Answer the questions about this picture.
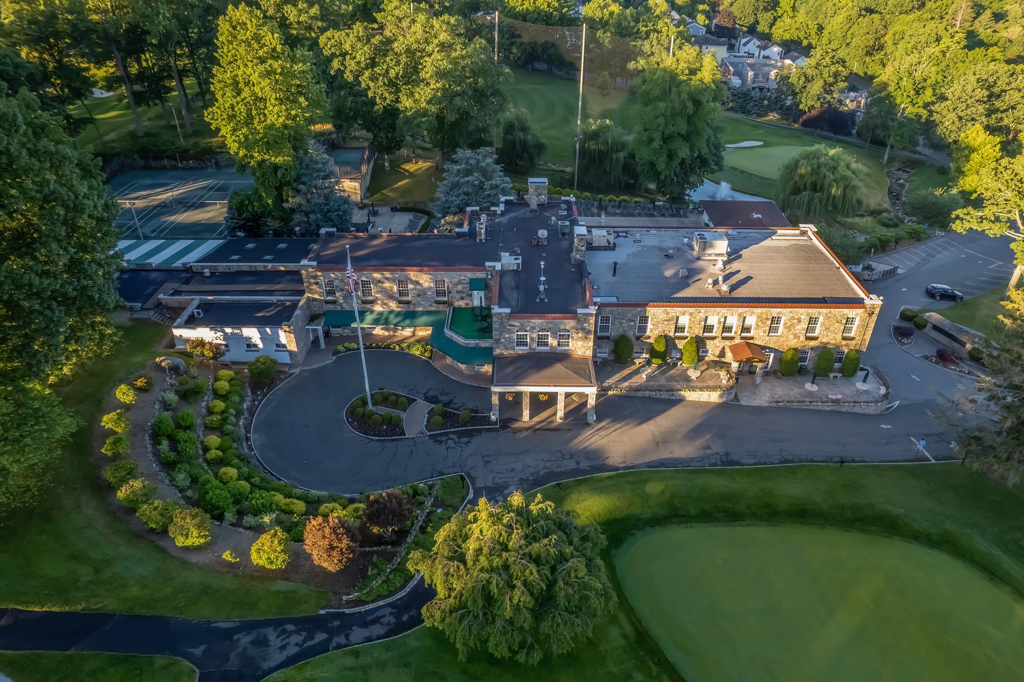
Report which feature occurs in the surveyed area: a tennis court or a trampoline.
tennis court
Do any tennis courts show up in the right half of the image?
No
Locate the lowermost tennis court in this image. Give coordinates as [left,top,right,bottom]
[88,171,273,243]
